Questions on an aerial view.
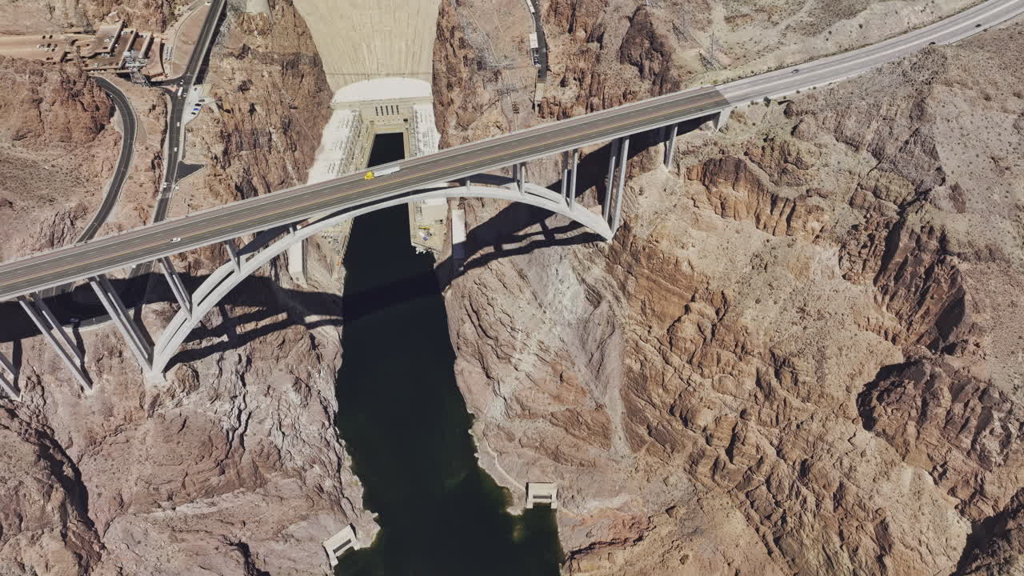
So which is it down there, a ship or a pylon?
pylon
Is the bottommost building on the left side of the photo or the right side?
left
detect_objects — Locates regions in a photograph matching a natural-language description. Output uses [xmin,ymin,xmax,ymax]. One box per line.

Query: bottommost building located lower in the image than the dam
[288,240,309,291]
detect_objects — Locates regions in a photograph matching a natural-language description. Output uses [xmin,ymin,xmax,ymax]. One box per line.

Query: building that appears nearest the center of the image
[452,197,466,272]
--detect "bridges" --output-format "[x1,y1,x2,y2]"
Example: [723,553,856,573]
[0,82,737,396]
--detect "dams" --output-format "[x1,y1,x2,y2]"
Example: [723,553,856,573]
[288,0,454,116]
